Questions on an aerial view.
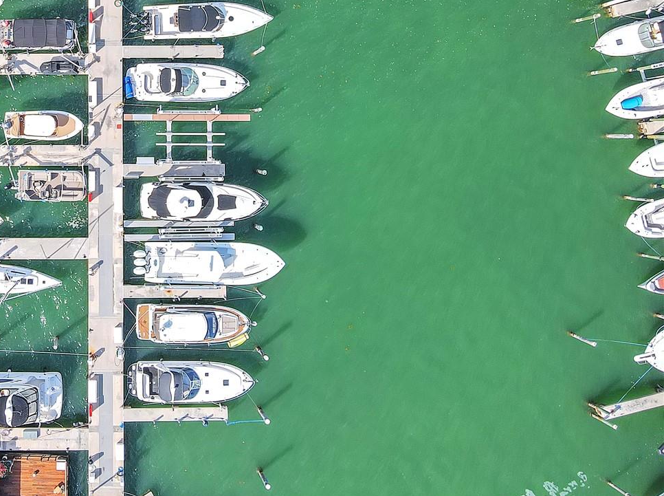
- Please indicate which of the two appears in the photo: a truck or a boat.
boat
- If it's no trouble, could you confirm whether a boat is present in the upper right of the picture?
Yes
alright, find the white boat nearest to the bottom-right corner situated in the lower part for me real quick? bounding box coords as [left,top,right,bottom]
[635,327,664,369]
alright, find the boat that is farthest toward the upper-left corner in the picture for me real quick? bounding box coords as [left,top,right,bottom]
[0,18,76,49]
